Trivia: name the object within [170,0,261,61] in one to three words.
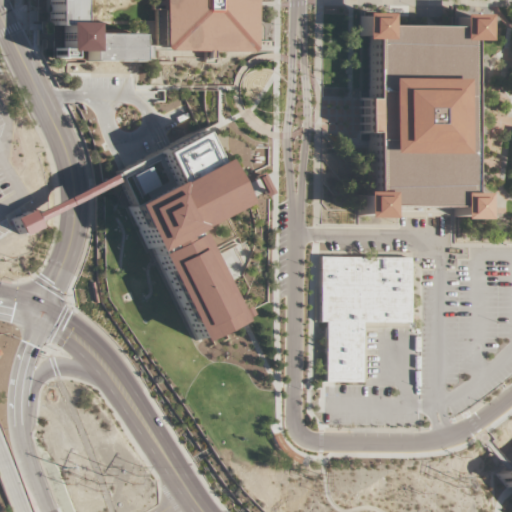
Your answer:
building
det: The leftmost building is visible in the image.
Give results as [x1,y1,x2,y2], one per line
[52,0,152,62]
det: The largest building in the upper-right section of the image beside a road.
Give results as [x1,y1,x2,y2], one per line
[358,14,498,219]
